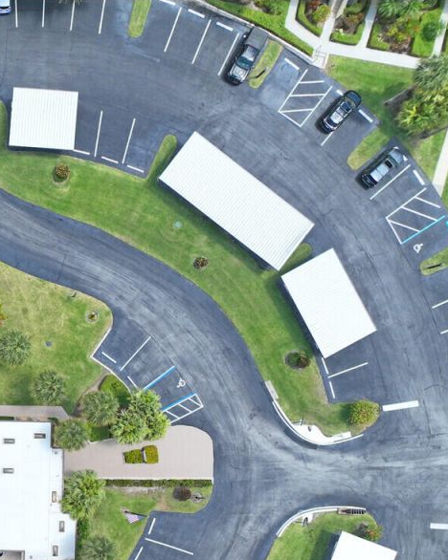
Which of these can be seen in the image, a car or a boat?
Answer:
car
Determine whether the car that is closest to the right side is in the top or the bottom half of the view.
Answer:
top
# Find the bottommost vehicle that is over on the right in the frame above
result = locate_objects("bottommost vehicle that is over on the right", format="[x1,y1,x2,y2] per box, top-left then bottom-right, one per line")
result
[359,147,404,189]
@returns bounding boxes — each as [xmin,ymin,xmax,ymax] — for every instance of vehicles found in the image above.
[223,25,266,85]
[0,0,12,13]
[320,90,361,136]
[359,147,404,189]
